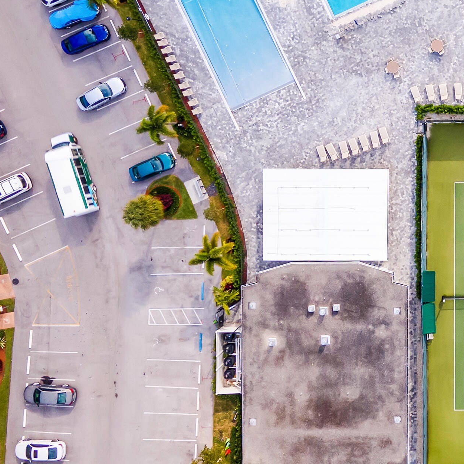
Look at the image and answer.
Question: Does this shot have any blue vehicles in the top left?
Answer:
Yes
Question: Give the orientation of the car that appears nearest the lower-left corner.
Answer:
from left to right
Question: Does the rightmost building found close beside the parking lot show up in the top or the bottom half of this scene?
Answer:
bottom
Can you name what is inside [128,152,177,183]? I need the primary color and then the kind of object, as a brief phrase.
blue car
